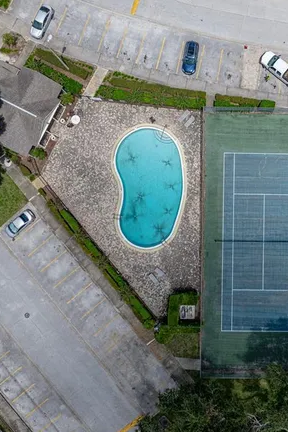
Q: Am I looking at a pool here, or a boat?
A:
pool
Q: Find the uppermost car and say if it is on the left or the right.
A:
left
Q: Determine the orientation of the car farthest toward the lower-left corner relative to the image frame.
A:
at an angle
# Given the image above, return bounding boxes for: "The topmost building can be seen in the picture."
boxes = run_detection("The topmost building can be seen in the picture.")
[0,58,64,154]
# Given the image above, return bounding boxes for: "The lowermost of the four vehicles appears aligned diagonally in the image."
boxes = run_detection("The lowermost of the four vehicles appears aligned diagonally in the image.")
[5,209,37,238]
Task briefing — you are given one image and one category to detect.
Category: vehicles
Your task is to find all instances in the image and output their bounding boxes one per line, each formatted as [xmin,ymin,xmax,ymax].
[5,209,37,238]
[31,4,53,40]
[262,55,288,88]
[181,41,197,74]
